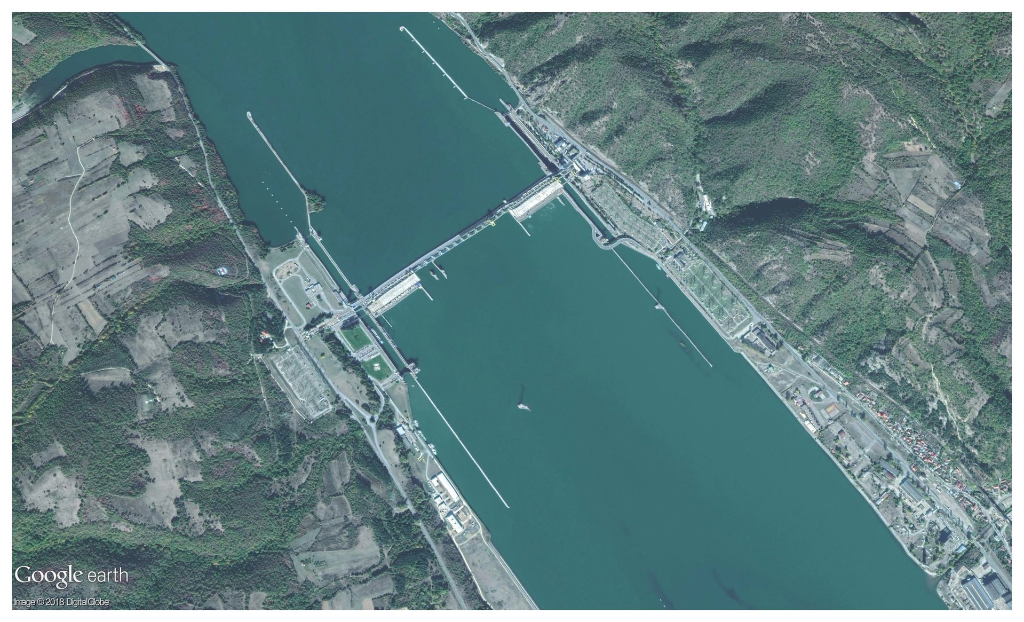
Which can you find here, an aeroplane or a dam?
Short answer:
dam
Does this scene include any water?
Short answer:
Yes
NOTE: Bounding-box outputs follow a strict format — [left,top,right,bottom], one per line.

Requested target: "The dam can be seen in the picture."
[308,158,580,336]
